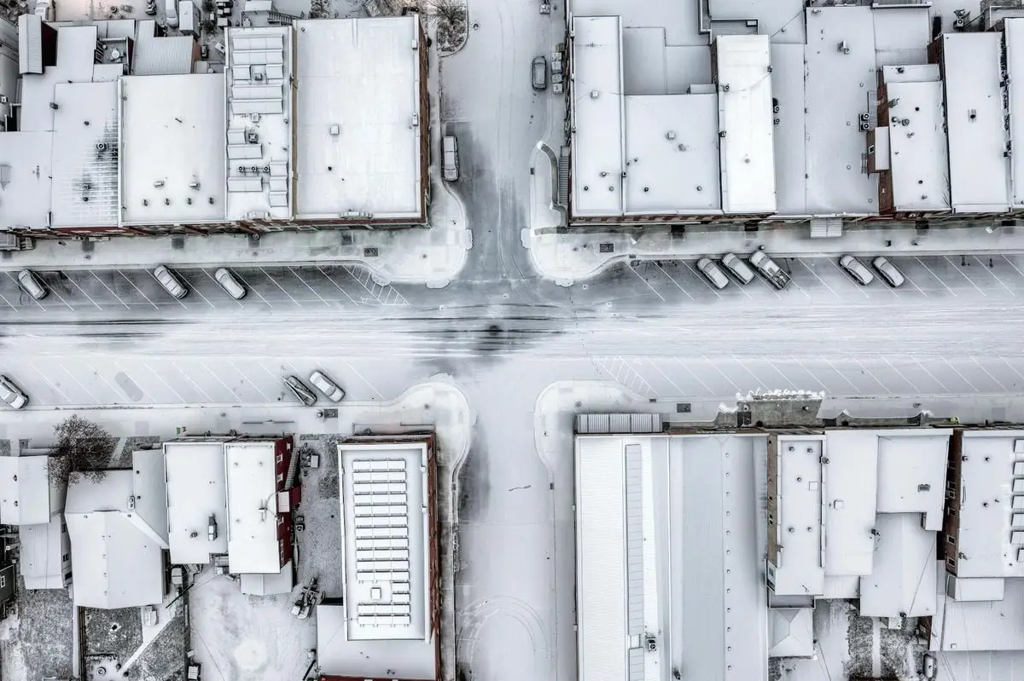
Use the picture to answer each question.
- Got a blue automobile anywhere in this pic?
No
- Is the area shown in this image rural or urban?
urban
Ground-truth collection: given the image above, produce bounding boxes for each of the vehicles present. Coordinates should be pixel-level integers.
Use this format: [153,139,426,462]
[697,256,728,290]
[144,0,161,17]
[920,652,938,679]
[721,252,755,286]
[0,373,30,408]
[161,0,181,29]
[291,586,313,616]
[441,136,459,182]
[750,250,791,289]
[288,376,318,407]
[154,263,190,300]
[870,255,905,289]
[838,254,873,287]
[215,265,248,300]
[19,267,50,301]
[310,370,345,403]
[531,55,547,92]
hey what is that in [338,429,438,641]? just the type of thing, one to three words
building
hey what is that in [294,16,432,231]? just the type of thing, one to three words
building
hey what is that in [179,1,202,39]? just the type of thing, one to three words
trailer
